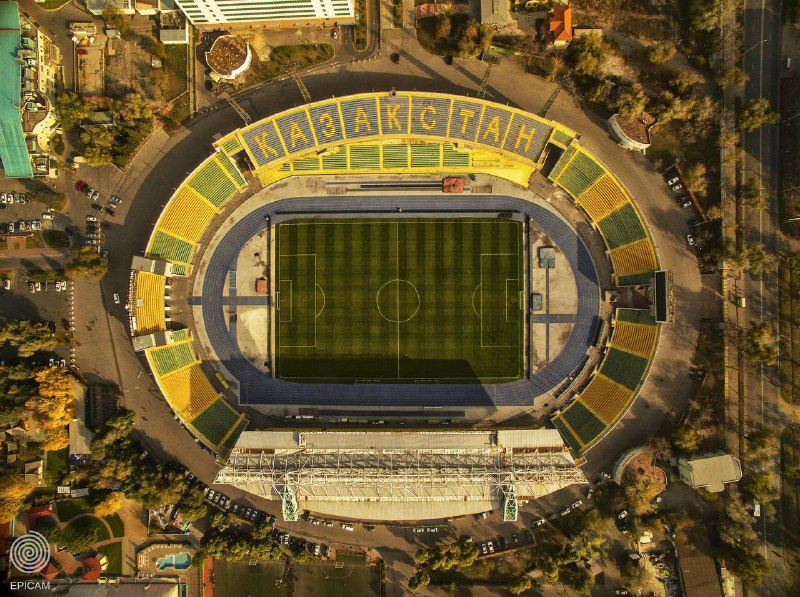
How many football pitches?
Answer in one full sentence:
I count just 1 football pitch.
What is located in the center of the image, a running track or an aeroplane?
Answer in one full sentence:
Looking in the center of the image, you will find a running track.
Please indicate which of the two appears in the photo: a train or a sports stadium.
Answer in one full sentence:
It is a sports stadium that can be seen here.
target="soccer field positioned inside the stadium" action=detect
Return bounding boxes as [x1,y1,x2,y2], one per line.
[275,217,524,383]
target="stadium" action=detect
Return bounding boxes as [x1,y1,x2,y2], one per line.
[123,87,665,522]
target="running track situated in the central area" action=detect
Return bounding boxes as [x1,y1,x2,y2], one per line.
[202,196,597,405]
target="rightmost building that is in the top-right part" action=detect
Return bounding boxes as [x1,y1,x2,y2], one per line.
[610,112,655,154]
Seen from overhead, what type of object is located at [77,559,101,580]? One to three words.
tent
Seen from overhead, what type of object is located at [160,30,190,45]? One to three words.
building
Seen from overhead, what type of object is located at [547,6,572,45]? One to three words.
house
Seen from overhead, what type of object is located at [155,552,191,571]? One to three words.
swimming pool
